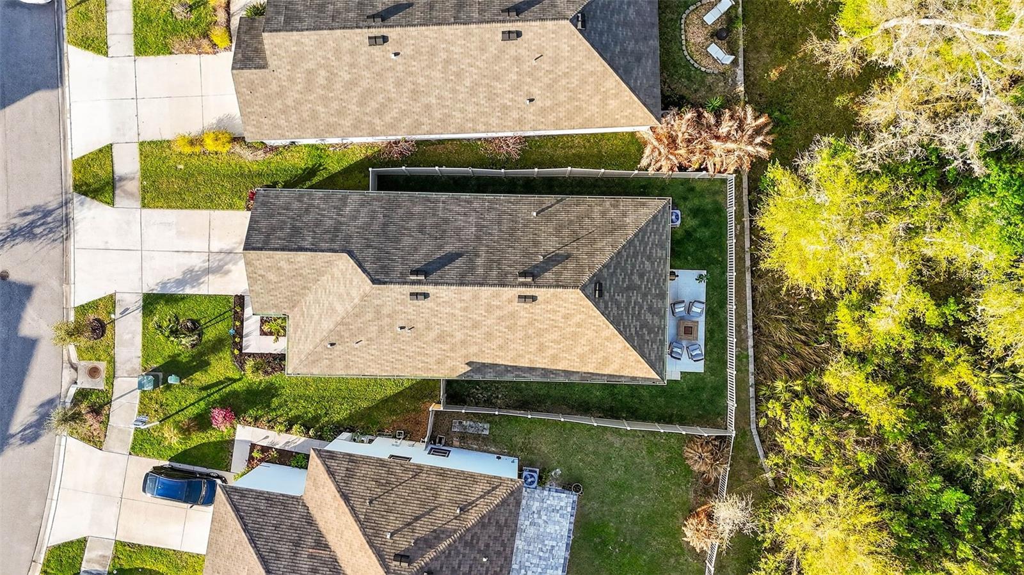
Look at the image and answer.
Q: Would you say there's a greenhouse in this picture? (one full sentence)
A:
No, the frame has no greenhouse in it.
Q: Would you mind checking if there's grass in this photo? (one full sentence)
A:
Yes, there is grass in the image.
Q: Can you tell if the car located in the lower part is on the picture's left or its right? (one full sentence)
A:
It is on the left.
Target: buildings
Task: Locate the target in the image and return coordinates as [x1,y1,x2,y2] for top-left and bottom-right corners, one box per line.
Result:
[206,421,525,575]
[232,0,661,144]
[243,191,670,383]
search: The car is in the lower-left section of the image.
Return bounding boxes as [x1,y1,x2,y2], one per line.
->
[141,463,227,510]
